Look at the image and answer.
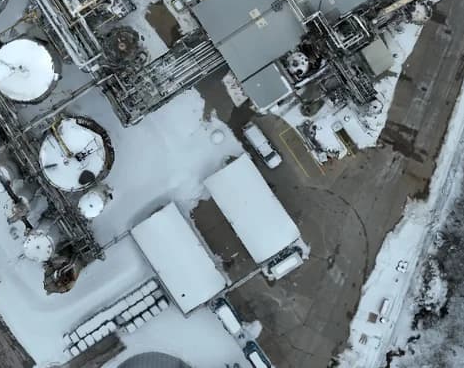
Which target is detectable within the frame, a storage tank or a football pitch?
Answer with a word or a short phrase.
storage tank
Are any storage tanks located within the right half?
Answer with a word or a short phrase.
No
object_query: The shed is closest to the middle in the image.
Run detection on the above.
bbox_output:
[203,151,300,265]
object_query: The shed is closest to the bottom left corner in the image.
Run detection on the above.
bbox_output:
[131,200,227,314]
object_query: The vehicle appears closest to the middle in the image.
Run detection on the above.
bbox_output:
[239,119,284,171]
